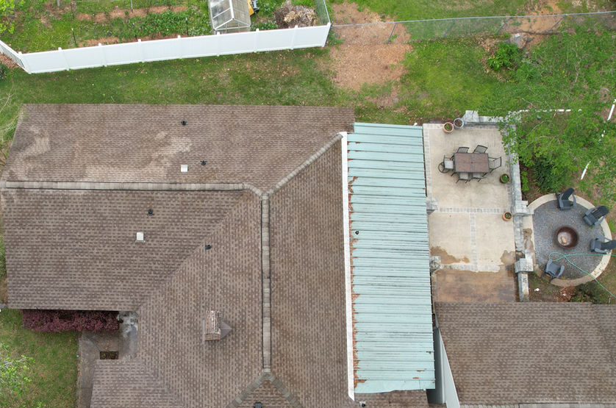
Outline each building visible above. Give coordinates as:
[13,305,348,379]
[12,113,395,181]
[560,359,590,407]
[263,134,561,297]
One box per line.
[0,102,434,408]
[213,0,253,34]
